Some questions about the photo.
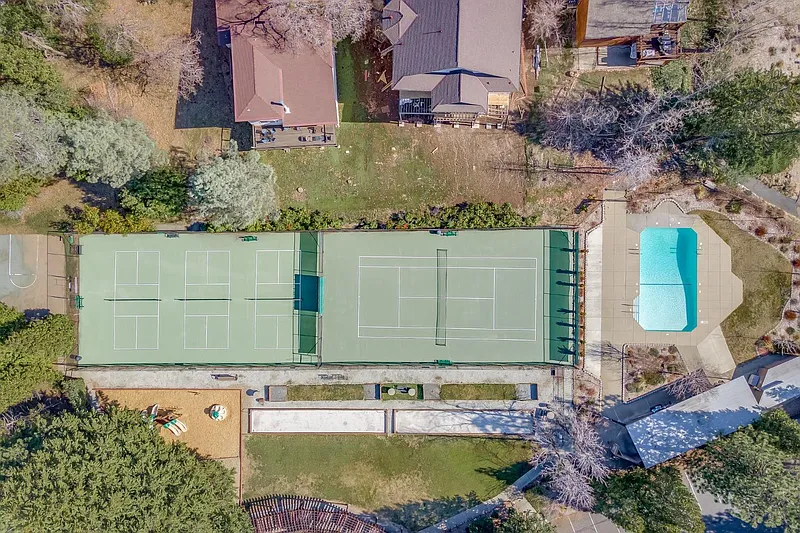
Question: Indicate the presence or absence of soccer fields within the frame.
No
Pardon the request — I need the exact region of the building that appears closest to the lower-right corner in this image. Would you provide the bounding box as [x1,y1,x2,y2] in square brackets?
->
[626,351,800,467]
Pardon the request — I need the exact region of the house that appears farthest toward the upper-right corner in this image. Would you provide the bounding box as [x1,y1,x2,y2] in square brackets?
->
[577,0,692,70]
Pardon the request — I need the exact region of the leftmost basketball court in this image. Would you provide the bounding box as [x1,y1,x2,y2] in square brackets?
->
[0,234,66,334]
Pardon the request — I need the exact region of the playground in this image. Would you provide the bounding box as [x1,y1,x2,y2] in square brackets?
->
[98,388,241,509]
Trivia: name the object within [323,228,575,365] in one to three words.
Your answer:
tennis court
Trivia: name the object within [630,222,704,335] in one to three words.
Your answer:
swimming pool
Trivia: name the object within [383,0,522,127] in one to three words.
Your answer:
house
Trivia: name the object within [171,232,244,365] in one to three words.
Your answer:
sports court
